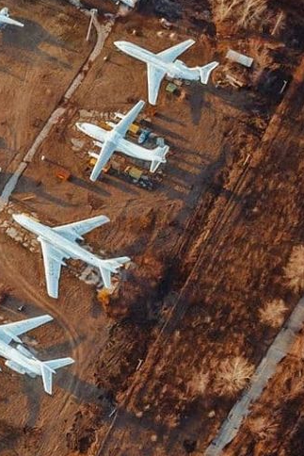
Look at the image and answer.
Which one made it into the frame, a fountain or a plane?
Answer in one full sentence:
The image shows a plane.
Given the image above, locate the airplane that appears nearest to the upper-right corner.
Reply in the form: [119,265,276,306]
[114,42,216,104]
